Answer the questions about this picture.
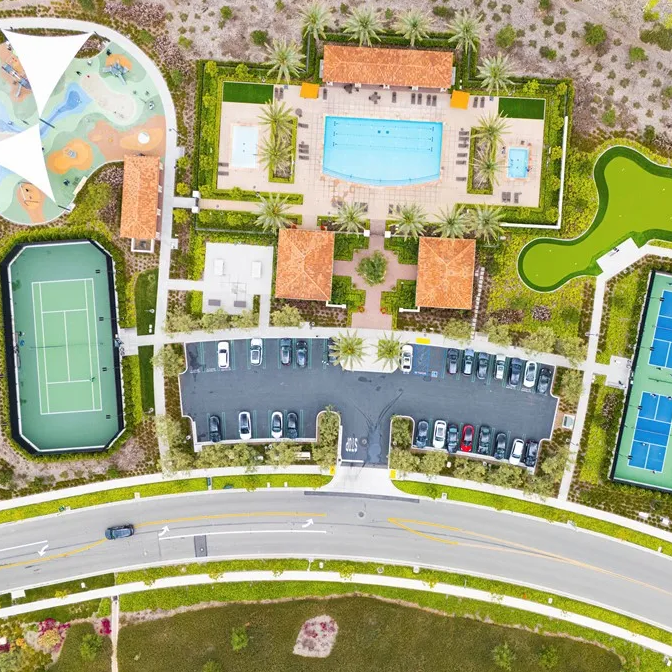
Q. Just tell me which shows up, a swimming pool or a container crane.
swimming pool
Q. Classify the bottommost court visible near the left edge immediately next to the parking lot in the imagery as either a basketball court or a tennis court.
tennis court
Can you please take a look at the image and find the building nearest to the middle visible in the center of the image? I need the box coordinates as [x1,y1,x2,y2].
[275,229,335,301]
